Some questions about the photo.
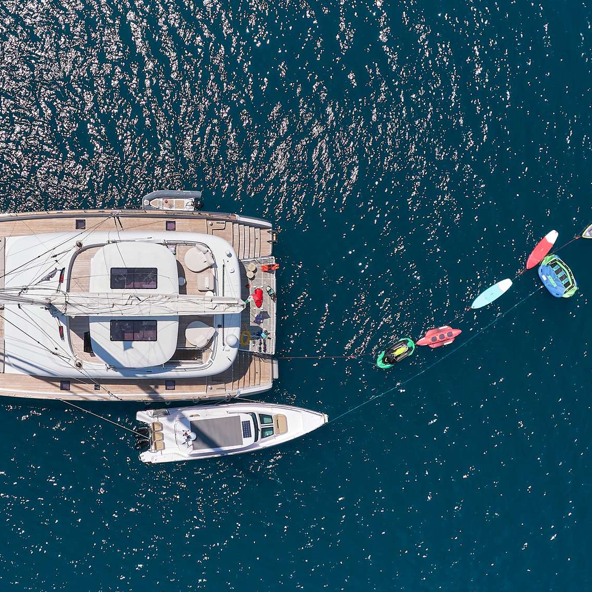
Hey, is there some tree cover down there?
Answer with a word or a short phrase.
No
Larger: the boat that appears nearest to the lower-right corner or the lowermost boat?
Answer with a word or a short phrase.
the lowermost boat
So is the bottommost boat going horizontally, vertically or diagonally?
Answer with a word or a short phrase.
horizontally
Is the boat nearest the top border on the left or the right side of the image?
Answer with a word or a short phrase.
left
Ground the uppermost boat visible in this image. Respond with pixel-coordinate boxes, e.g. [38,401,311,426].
[142,190,203,211]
